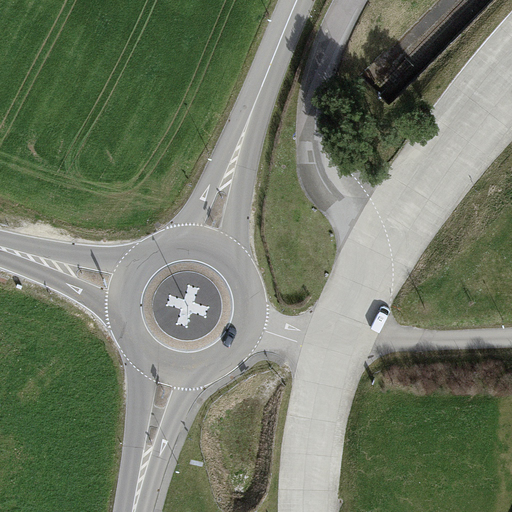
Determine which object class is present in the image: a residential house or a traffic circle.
traffic circle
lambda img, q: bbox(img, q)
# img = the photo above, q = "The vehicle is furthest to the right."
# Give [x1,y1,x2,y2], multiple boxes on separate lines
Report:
[370,306,390,333]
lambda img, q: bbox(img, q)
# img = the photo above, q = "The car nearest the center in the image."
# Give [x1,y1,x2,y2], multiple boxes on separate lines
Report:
[222,324,238,346]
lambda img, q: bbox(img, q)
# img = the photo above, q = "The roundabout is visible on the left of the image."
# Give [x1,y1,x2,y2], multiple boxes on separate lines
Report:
[106,224,270,390]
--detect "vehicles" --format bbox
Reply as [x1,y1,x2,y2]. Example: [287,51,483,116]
[370,306,390,333]
[222,324,238,346]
